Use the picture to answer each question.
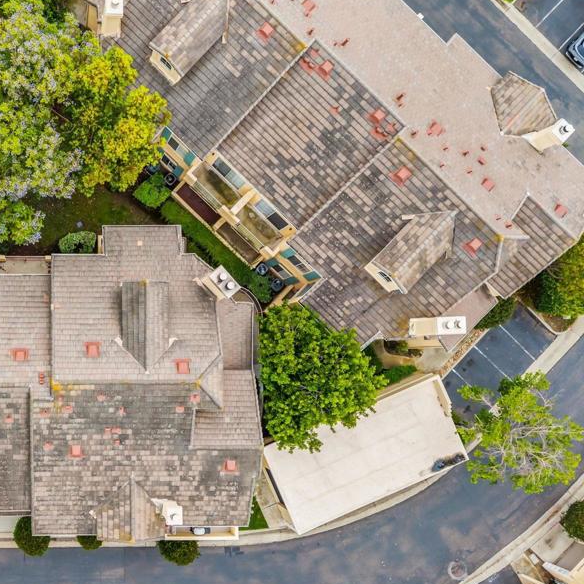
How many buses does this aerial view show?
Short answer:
0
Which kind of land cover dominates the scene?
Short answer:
buildings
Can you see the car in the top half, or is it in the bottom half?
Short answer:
top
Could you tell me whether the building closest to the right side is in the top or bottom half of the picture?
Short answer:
bottom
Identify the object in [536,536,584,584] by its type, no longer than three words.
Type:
building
